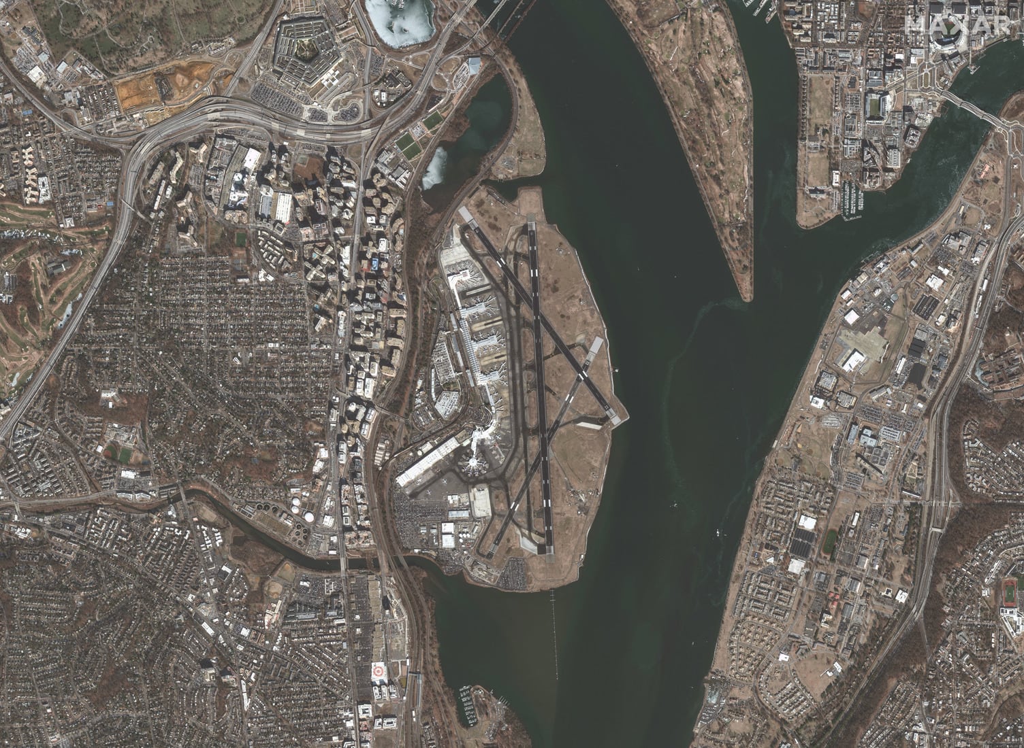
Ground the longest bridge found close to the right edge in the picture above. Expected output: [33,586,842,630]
[930,83,1002,127]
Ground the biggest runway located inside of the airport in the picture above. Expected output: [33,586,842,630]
[528,213,554,563]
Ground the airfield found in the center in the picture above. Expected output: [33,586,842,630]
[402,186,629,590]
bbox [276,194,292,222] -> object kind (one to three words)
building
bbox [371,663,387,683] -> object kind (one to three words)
building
